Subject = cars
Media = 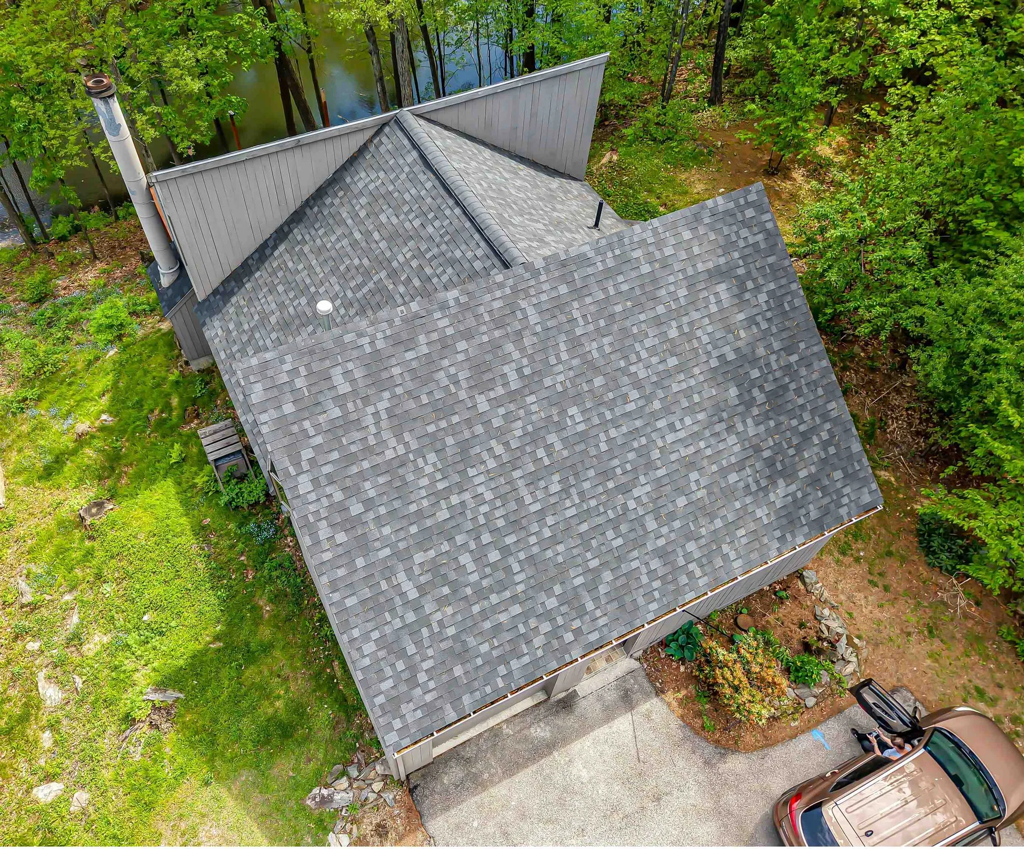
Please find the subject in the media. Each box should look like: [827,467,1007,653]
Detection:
[770,689,1024,849]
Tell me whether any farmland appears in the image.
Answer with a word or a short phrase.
No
